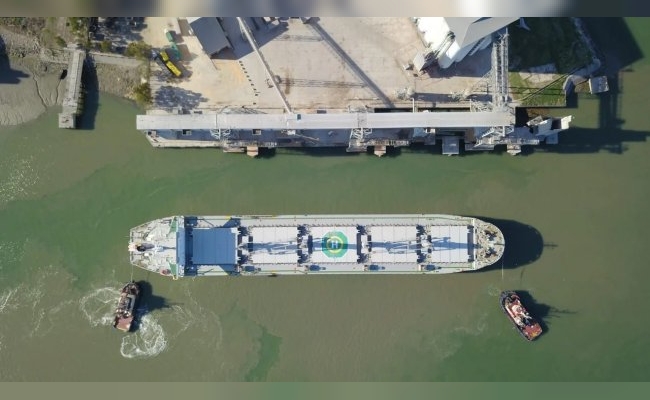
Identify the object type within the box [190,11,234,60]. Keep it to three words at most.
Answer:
shed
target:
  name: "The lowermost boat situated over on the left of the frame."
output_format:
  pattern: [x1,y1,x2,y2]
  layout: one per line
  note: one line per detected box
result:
[112,283,142,333]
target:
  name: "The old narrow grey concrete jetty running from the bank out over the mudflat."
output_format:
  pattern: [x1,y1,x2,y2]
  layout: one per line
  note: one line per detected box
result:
[58,44,89,130]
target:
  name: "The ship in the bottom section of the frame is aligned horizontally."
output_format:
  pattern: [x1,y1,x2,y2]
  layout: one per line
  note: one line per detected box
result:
[126,214,508,281]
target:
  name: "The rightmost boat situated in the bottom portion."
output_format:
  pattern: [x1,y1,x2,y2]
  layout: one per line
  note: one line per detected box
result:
[500,290,541,342]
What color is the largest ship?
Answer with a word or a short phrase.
white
